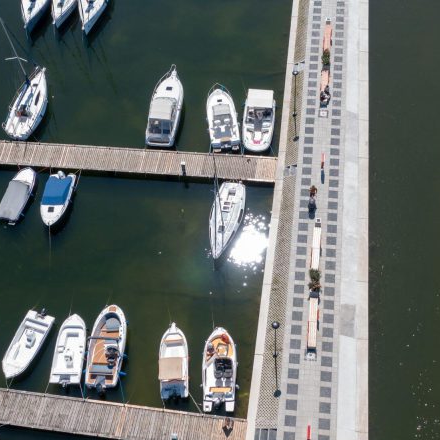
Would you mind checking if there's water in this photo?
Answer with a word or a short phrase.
Yes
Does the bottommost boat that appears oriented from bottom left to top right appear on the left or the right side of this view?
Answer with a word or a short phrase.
left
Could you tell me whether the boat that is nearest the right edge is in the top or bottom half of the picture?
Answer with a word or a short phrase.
top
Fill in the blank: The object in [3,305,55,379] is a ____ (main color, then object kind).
white boat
